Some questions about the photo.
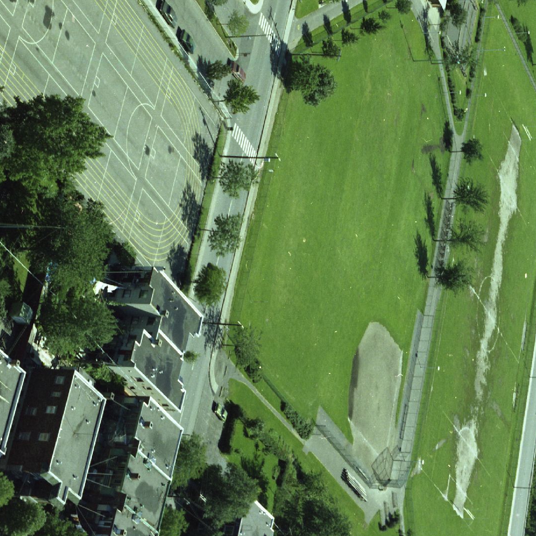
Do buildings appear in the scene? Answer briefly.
Yes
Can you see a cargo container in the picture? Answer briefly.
No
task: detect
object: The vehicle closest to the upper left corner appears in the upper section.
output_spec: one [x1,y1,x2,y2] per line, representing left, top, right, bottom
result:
[163,0,181,30]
